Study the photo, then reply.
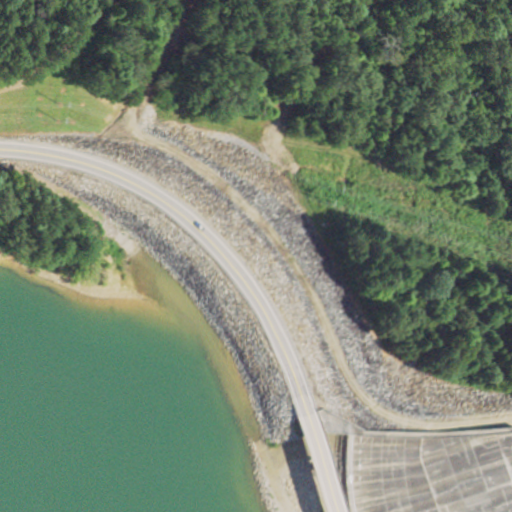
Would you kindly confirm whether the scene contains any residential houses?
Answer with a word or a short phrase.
No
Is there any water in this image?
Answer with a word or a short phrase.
Yes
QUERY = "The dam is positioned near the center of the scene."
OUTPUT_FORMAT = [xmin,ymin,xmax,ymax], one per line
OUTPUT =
[0,122,512,444]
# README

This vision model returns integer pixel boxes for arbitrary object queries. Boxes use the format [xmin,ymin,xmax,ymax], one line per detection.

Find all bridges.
[306,427,350,512]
